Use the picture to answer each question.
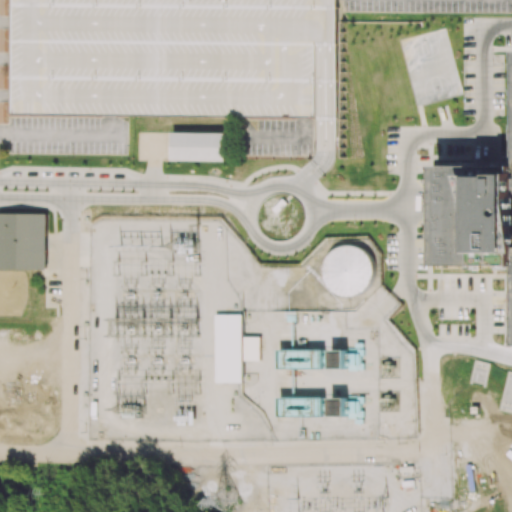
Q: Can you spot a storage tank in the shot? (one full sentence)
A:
Yes, I can see a storage tank in this picture.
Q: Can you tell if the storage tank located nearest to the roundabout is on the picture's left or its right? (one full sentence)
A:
The storage tank located nearest to the roundabout appears in the right half of the scene.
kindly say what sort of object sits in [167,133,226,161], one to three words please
building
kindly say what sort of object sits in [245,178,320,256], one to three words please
roundabout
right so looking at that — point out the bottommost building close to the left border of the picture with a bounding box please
[0,214,50,270]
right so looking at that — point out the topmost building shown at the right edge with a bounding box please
[424,166,512,266]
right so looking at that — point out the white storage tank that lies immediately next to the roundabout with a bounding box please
[324,244,378,298]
